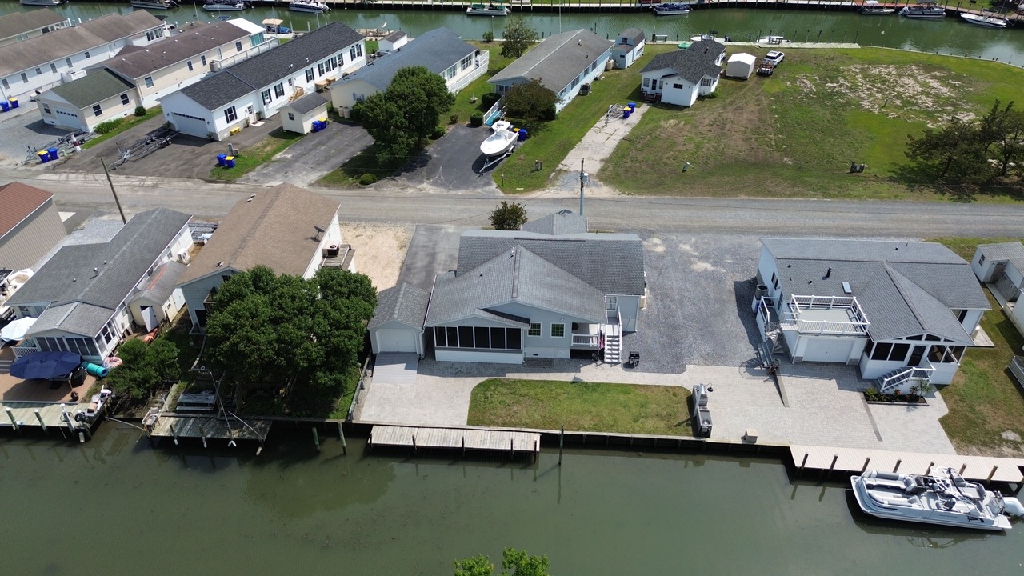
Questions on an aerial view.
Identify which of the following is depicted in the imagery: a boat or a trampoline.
boat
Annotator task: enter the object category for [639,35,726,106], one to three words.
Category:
house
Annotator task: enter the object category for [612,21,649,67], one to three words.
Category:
shed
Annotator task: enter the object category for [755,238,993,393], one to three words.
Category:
house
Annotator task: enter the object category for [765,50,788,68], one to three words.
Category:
car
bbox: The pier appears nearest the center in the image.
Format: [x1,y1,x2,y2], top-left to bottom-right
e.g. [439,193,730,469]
[368,426,540,470]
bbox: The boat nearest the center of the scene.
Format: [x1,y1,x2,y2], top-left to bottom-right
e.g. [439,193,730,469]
[487,119,529,156]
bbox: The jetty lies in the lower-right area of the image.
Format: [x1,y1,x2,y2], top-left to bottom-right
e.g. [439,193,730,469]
[790,444,1024,497]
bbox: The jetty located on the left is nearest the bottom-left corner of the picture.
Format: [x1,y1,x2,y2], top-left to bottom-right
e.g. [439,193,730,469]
[0,404,77,431]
